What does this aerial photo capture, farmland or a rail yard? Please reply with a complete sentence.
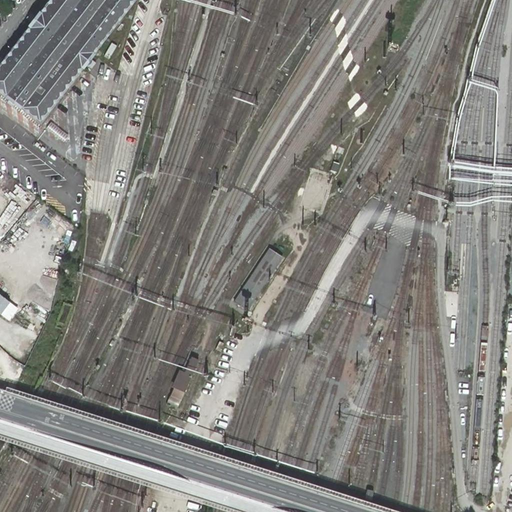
This image shows a rail yard.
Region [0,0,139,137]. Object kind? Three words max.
building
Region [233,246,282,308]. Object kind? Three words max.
building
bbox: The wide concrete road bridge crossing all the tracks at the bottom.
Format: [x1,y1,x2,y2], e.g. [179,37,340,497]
[0,386,406,512]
